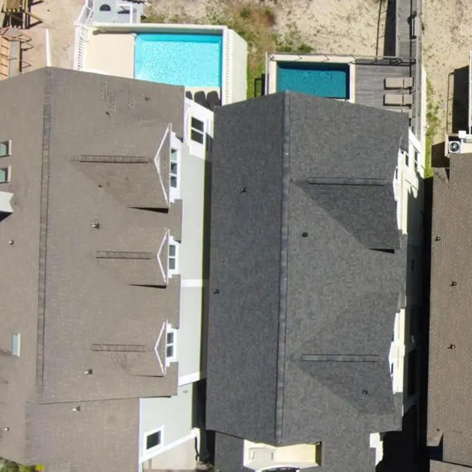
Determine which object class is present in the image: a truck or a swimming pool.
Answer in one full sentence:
Looking from above, you can make out a swimming pool.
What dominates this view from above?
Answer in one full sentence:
What you mostly see from above here is buildings.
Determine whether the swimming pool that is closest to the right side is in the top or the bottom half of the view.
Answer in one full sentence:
The top half of the photo is where the swimming pool that is closest to the right side is.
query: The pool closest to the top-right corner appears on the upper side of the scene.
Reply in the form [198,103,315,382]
[269,55,357,104]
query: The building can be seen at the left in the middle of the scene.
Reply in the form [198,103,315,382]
[0,68,215,472]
